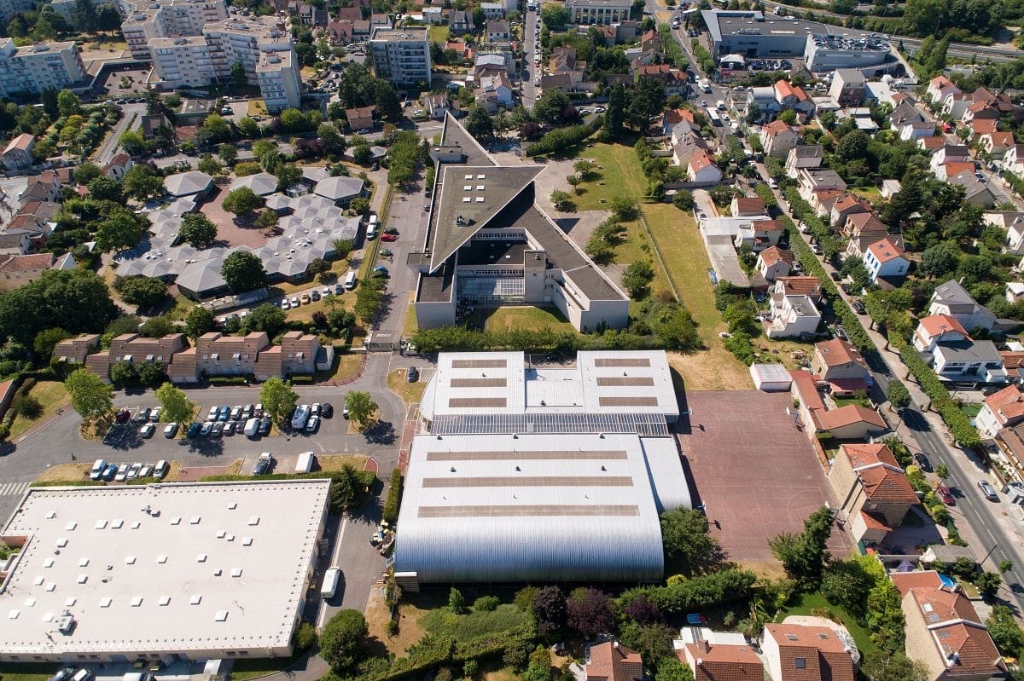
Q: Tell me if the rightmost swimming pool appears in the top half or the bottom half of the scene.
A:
bottom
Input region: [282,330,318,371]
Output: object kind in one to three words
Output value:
house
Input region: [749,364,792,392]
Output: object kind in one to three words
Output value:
shed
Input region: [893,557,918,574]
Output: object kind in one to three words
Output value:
umbrella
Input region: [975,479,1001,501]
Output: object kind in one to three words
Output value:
car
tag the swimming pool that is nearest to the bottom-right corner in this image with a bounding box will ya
[930,569,965,589]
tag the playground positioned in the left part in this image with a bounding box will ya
[181,186,281,248]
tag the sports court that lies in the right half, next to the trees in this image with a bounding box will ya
[680,390,854,561]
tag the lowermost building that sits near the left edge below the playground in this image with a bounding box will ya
[0,479,335,681]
